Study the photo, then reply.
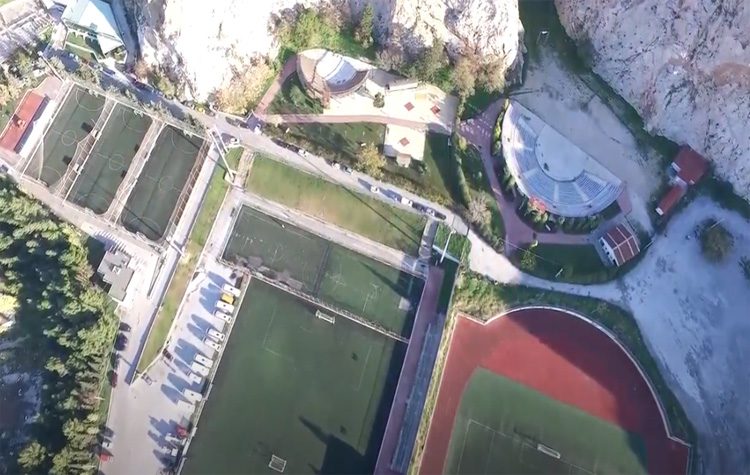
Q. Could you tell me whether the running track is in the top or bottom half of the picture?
bottom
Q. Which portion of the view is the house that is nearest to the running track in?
right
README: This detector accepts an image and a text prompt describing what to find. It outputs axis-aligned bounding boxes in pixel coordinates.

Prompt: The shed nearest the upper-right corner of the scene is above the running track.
[669,144,710,187]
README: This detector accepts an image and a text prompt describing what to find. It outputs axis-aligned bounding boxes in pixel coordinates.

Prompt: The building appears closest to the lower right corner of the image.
[605,225,645,269]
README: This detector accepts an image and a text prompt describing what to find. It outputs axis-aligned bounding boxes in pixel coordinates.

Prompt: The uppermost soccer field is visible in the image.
[222,206,420,340]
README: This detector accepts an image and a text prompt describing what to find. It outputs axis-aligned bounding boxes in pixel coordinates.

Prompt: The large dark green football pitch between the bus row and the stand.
[179,277,406,475]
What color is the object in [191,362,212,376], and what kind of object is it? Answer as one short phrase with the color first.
white vehicle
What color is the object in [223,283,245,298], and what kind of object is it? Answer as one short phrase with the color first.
white vehicle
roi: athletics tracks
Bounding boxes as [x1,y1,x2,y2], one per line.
[420,307,689,475]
